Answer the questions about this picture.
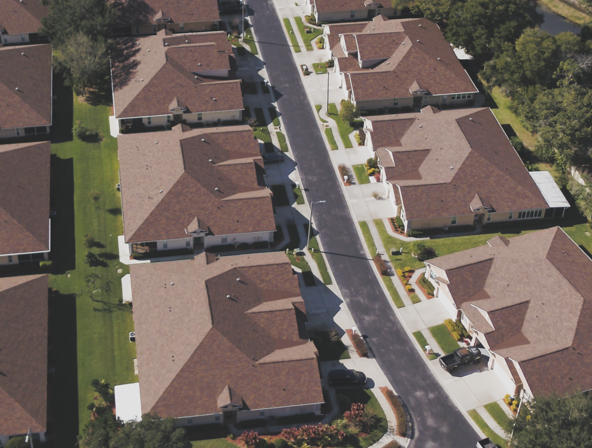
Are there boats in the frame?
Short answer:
No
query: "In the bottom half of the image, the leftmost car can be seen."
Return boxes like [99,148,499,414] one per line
[329,366,368,386]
